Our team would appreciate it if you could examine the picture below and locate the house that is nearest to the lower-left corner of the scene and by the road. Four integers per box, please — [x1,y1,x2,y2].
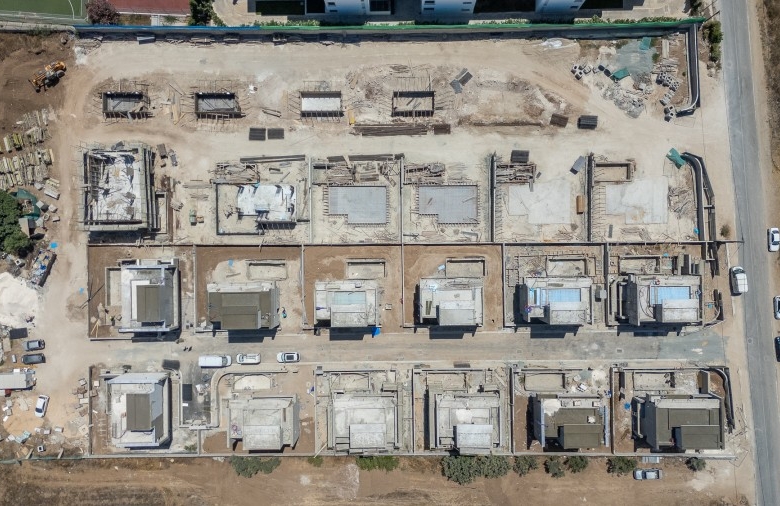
[110,374,174,447]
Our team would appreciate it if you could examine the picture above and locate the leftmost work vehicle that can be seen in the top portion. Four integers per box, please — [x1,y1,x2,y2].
[31,65,69,92]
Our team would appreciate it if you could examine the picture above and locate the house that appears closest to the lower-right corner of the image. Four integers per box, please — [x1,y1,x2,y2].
[637,392,720,447]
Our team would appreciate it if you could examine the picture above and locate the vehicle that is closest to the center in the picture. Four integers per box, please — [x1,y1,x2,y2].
[277,351,301,363]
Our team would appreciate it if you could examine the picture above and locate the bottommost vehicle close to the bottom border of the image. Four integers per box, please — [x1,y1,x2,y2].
[632,467,661,481]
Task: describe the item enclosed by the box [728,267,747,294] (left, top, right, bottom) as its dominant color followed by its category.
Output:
white vehicle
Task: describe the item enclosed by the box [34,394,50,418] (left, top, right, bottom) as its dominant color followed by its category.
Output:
white car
